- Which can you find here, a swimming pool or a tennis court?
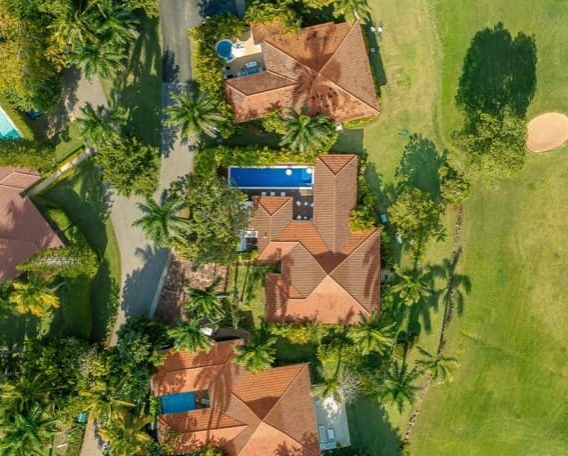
swimming pool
